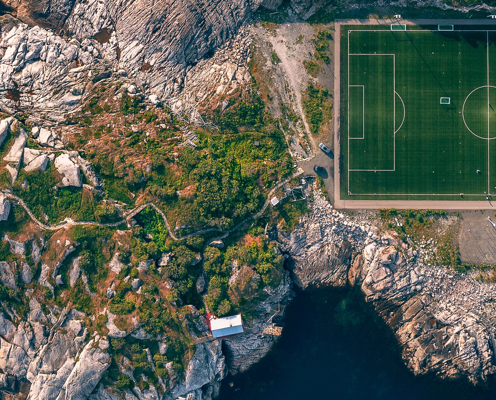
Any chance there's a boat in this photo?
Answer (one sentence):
No, there isn't any boat down there.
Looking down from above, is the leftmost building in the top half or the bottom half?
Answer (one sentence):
The leftmost building is in the bottom half of the image.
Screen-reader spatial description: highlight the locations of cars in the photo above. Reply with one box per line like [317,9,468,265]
[319,143,331,154]
[313,165,325,172]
